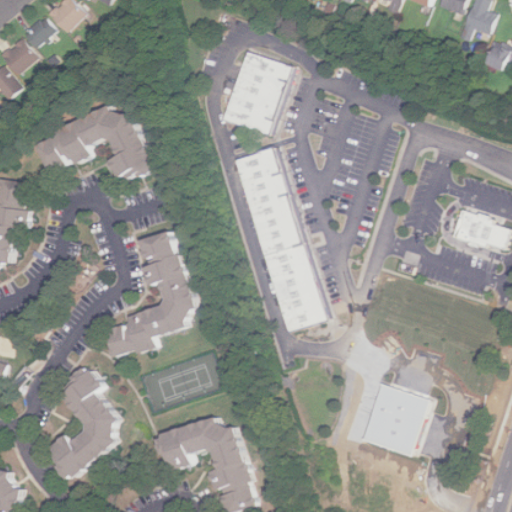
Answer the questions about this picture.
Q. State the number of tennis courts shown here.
1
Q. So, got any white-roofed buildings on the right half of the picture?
Yes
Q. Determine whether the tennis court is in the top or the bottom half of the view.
bottom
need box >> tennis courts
[140,351,220,414]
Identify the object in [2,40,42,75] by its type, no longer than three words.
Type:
house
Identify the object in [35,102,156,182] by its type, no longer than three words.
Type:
building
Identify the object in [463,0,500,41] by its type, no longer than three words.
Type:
house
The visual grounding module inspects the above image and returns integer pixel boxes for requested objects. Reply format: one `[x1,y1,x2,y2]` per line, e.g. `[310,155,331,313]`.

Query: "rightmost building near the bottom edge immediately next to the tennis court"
[155,414,259,512]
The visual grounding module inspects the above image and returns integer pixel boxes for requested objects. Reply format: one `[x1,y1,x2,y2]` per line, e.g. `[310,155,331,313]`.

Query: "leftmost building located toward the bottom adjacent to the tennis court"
[52,368,122,477]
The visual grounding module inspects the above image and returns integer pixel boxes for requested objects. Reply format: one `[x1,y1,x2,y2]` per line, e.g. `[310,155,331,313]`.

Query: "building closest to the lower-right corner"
[363,386,440,458]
